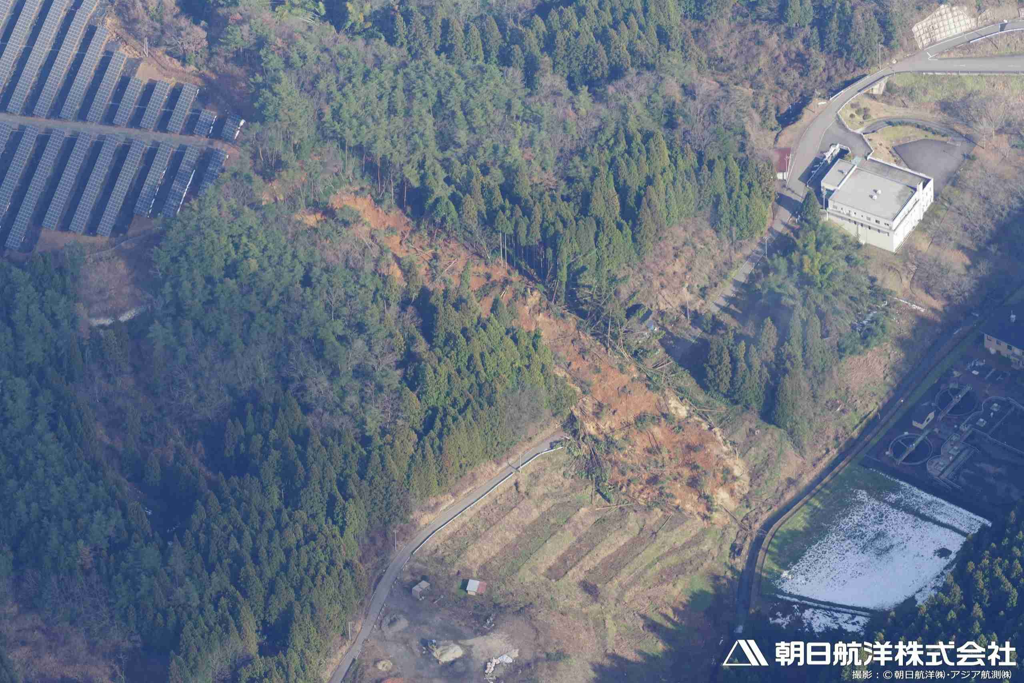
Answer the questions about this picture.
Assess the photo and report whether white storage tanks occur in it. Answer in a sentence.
No, there's no white storage tank here.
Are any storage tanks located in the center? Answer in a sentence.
No, in the center there is no storage tank.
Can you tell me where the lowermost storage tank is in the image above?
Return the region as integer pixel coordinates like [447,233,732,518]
[889,429,933,469]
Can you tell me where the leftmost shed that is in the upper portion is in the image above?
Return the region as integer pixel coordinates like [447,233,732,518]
[774,147,791,176]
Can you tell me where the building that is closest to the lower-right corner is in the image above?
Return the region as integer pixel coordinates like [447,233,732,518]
[912,406,935,431]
